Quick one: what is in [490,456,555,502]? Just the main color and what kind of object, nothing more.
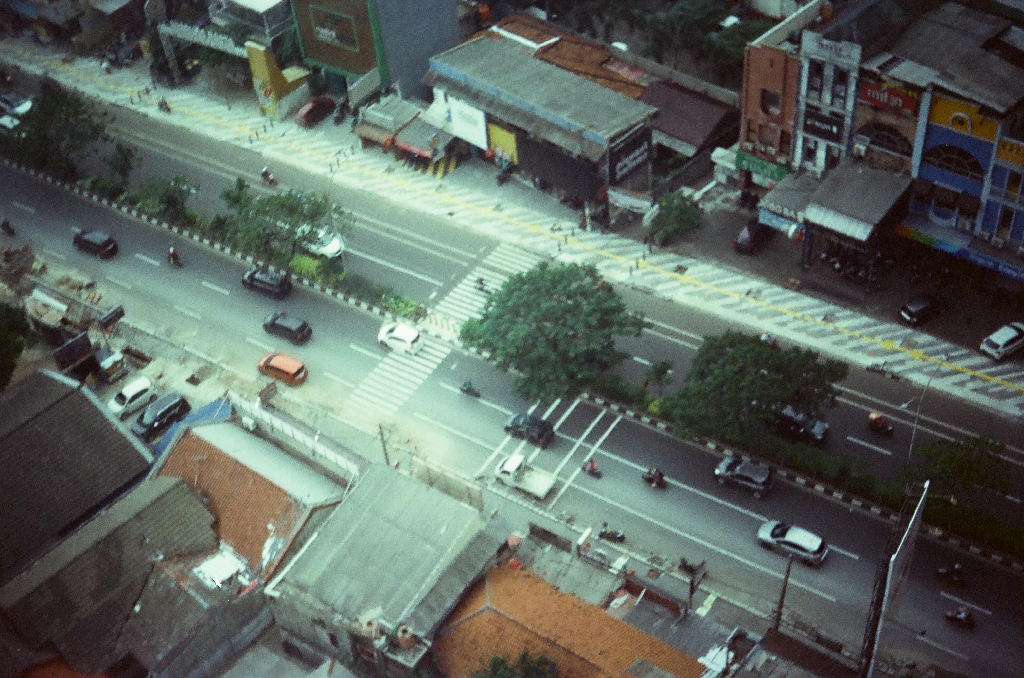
white truck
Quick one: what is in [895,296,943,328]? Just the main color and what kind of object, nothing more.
black car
